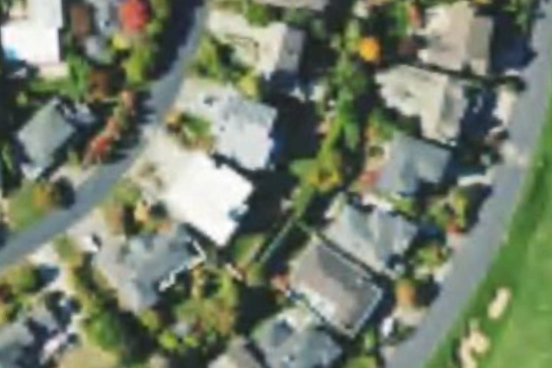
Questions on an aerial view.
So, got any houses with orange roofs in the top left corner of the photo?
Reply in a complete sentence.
No, there is no house with an orange roof in the top left corner of the photo.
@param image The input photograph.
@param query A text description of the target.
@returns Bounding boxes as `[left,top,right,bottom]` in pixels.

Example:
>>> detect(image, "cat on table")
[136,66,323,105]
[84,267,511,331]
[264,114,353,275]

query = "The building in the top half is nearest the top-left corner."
[0,0,60,64]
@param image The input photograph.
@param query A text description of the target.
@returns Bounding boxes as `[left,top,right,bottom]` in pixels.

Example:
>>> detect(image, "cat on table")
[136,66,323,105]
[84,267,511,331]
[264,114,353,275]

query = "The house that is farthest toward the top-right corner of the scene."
[420,0,496,74]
